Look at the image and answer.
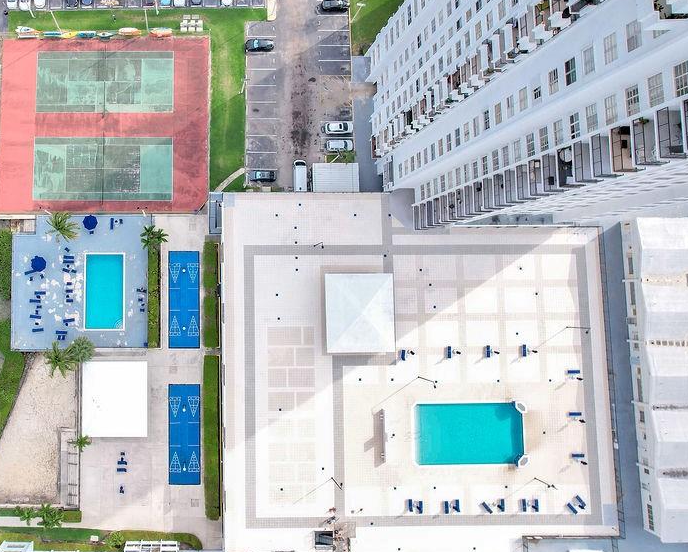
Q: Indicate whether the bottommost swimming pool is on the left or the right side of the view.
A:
right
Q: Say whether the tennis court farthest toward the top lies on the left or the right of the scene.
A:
left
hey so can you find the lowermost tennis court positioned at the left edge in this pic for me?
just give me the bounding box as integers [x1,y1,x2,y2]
[0,126,209,213]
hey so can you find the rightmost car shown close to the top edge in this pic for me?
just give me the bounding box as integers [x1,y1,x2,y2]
[321,0,349,12]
